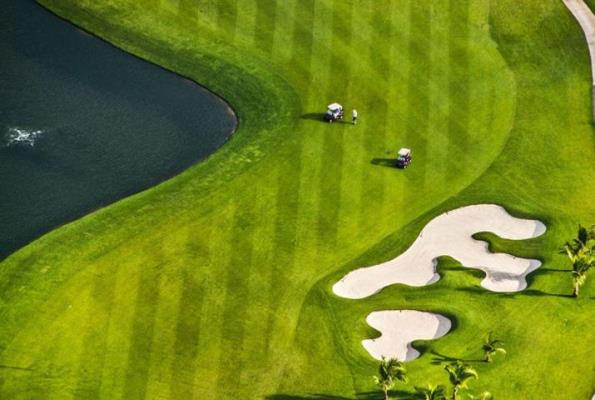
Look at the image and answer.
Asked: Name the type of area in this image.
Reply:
golf course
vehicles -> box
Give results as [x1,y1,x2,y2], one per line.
[325,102,346,122]
[396,148,412,170]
